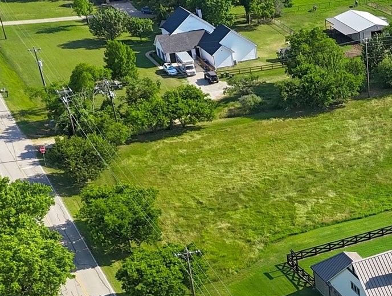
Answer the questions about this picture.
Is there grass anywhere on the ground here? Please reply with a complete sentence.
Yes, grass shows up in the scene.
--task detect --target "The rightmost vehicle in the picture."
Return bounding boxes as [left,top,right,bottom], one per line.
[204,71,219,83]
